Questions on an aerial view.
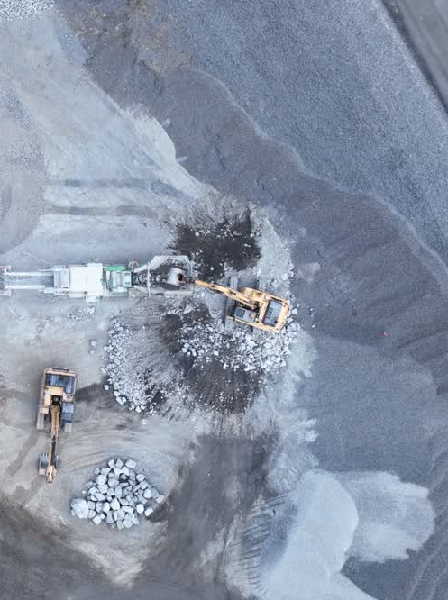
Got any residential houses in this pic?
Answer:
No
